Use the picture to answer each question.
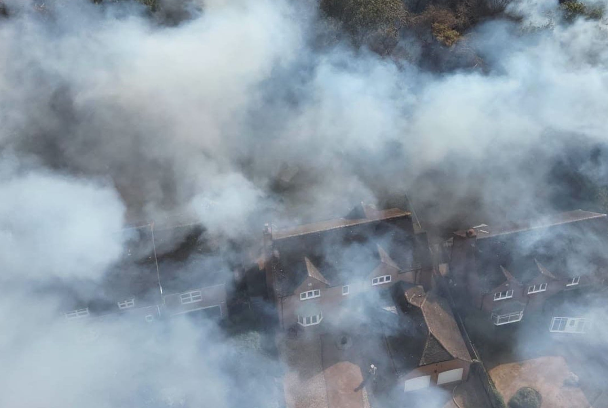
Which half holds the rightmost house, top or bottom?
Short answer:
bottom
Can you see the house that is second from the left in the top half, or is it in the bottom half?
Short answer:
bottom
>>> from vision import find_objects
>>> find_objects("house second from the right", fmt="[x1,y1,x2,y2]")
[259,180,475,393]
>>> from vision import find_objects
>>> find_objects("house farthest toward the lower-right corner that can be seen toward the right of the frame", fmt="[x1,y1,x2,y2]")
[448,208,608,361]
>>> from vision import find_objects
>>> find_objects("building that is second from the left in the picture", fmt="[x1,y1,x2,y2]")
[149,204,253,332]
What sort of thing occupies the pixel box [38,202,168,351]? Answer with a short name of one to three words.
house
